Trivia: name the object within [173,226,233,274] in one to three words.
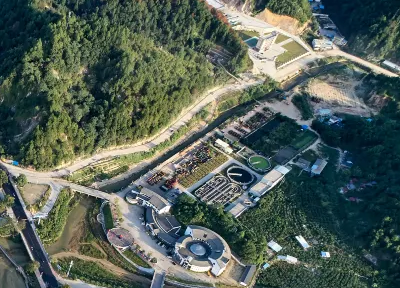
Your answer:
building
